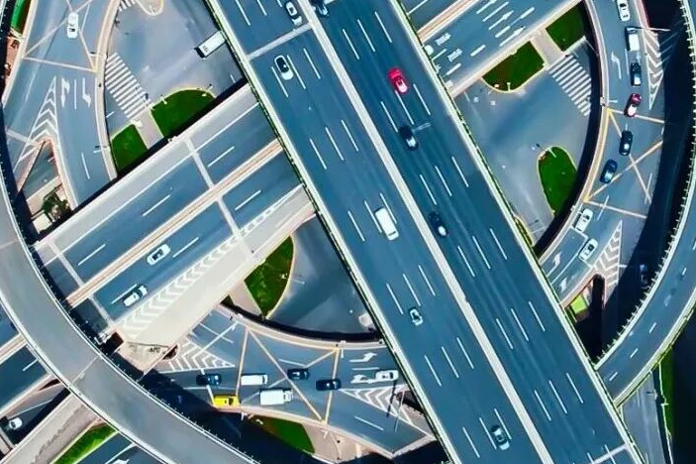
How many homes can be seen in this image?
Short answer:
0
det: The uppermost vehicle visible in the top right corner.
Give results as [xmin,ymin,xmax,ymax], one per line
[616,0,630,21]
